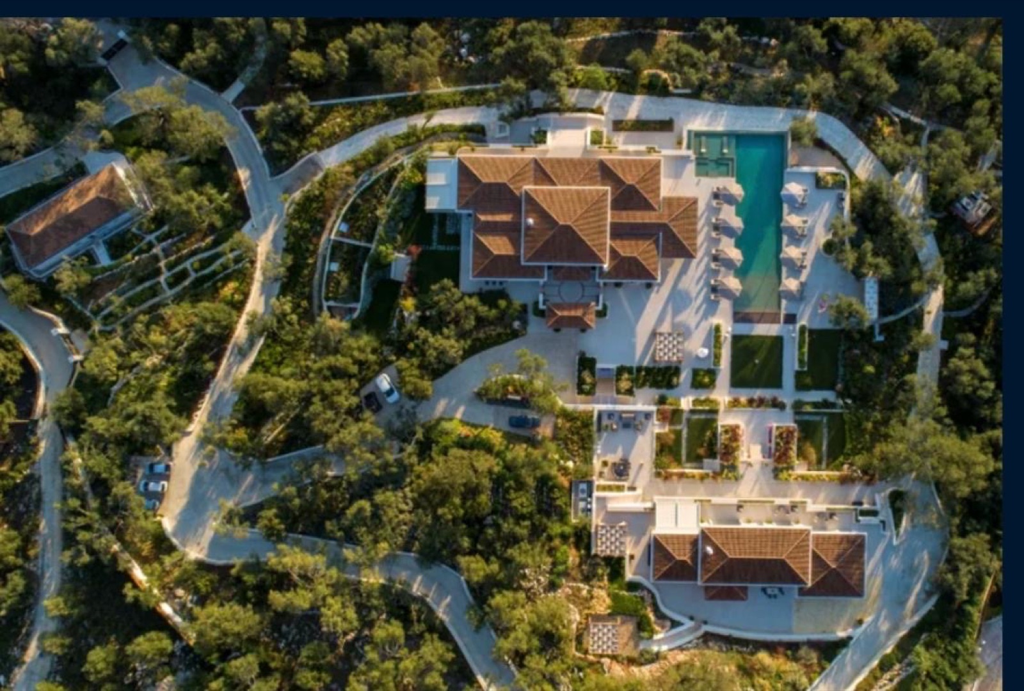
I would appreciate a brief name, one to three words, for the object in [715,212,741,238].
umbrella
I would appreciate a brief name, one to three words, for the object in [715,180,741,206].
umbrella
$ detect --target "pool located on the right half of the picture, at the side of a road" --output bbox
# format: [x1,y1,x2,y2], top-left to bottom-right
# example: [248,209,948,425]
[690,128,796,324]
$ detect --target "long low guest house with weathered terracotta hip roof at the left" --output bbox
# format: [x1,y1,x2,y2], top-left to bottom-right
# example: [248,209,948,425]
[5,159,168,287]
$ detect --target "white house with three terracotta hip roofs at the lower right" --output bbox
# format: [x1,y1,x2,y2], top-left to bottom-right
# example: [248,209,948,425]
[652,498,866,601]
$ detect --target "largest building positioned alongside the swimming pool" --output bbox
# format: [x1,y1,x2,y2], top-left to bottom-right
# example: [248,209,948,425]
[426,155,698,310]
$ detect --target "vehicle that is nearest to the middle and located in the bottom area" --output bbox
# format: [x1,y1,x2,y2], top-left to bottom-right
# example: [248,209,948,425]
[509,415,540,429]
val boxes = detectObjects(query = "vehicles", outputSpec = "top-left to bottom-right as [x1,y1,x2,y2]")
[147,462,174,475]
[374,372,400,402]
[361,389,379,412]
[143,481,168,492]
[509,415,540,429]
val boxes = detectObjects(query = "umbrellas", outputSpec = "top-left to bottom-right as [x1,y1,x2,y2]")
[715,244,740,270]
[715,212,741,238]
[779,212,806,237]
[780,181,806,207]
[714,275,740,301]
[697,346,709,358]
[715,180,741,206]
[779,275,805,301]
[779,244,805,270]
